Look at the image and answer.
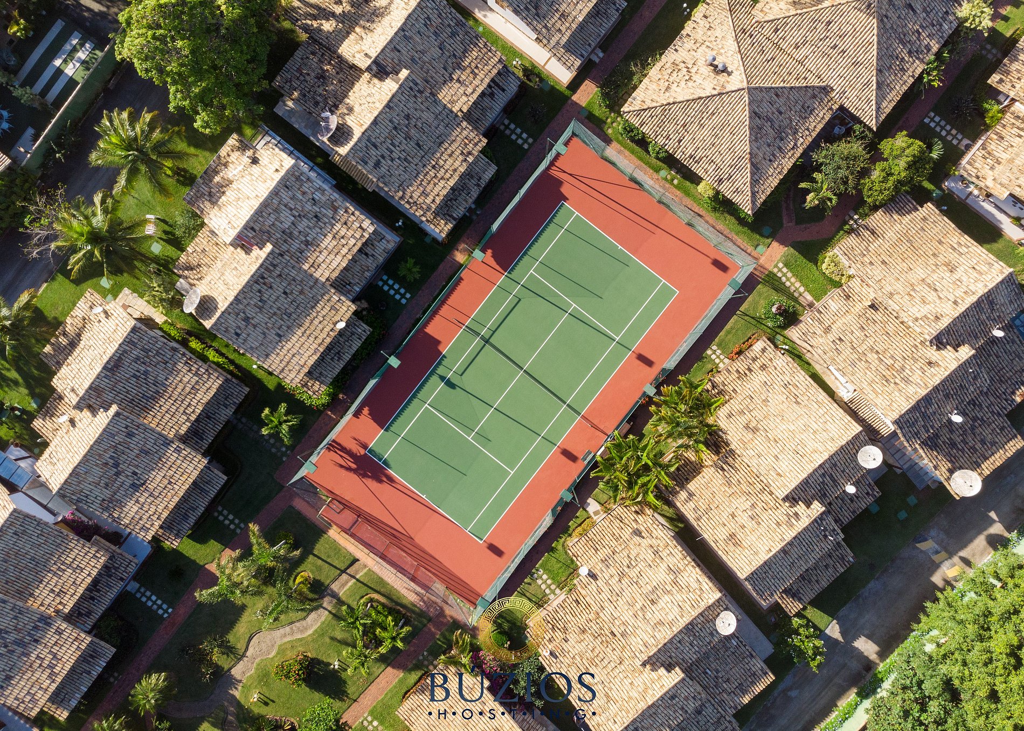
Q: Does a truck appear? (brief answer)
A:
No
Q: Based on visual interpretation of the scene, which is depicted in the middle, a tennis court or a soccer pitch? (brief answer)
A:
tennis court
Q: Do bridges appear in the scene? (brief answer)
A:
No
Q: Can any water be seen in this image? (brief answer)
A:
No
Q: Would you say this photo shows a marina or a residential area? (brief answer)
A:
residential area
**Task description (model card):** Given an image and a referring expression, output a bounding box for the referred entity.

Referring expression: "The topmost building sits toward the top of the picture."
[464,0,628,81]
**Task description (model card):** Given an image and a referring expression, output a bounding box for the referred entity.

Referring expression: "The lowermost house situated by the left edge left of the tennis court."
[0,485,153,721]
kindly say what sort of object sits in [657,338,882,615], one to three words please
house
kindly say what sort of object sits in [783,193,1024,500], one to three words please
house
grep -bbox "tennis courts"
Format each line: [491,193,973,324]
[305,138,741,609]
